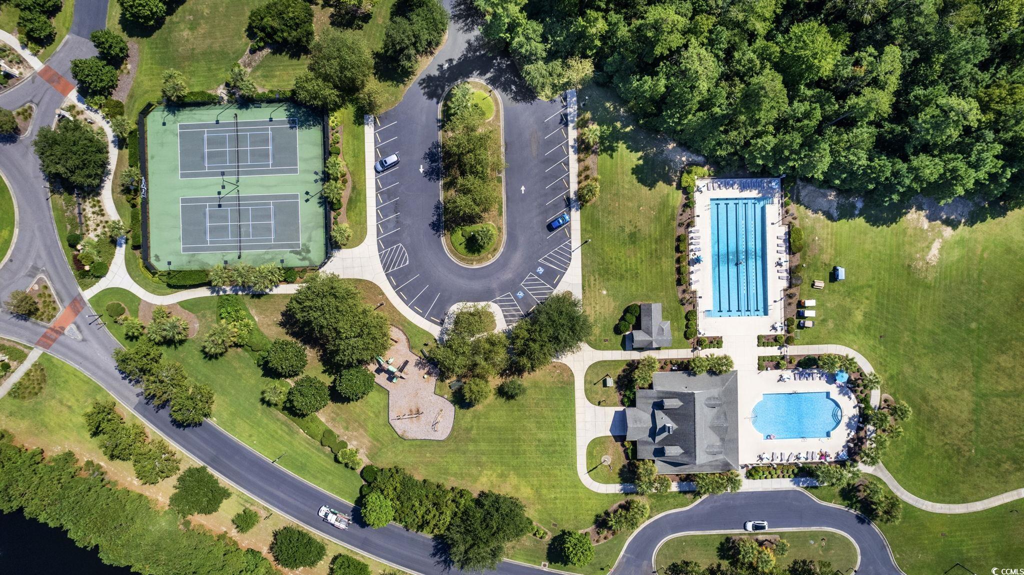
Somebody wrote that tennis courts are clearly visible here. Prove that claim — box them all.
[180,193,301,253]
[178,118,299,179]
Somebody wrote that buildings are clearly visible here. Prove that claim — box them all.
[624,371,738,474]
[625,304,672,348]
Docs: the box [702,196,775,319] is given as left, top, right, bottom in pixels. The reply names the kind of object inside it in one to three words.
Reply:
swimming pool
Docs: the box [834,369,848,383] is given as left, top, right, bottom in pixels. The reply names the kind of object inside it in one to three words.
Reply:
umbrella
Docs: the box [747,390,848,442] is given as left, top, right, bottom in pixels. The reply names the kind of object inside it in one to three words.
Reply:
swimming pool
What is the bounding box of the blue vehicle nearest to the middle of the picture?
[546,214,570,232]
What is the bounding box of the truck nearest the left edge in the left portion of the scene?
[319,506,352,532]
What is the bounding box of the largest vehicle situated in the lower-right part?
[743,520,768,532]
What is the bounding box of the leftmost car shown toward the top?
[374,154,399,172]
